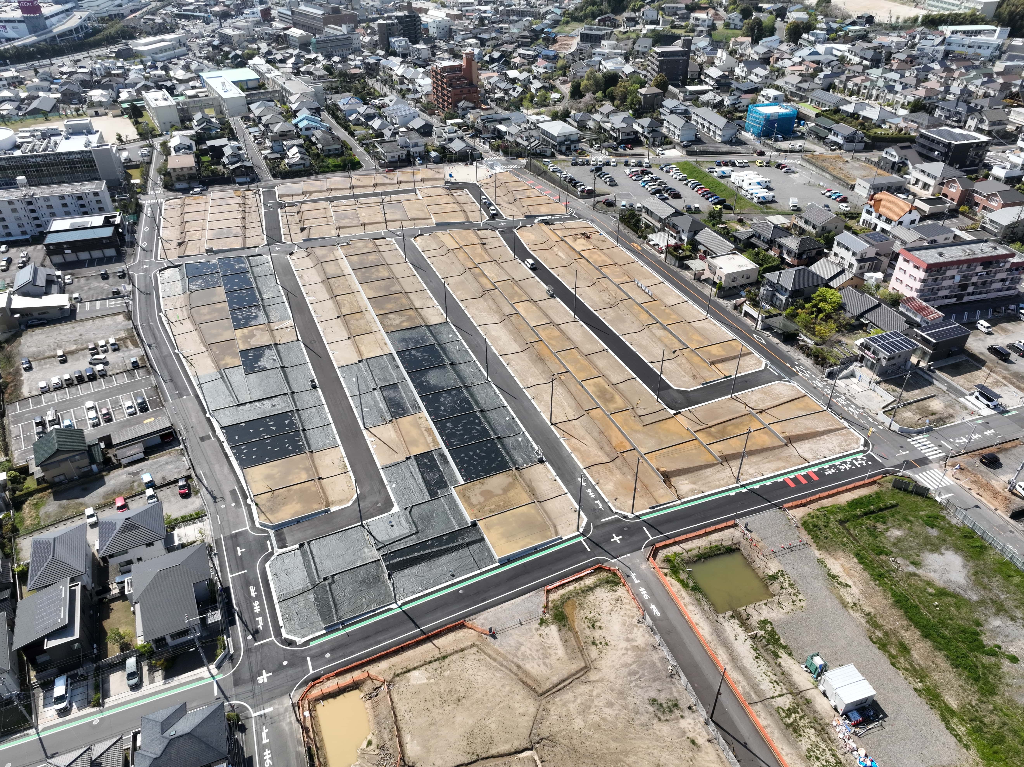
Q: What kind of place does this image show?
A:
residential area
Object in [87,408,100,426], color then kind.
white vehicle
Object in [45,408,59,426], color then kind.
white car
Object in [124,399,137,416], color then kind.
white vehicle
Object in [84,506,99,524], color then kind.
white car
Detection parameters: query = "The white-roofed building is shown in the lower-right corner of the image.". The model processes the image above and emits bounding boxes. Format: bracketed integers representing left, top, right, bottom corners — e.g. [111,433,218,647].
[820,664,876,713]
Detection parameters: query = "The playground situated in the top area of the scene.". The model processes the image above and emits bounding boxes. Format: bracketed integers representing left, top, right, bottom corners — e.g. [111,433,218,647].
[445,162,504,184]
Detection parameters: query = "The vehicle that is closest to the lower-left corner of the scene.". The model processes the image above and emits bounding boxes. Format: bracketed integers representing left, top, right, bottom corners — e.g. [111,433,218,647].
[52,676,70,712]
